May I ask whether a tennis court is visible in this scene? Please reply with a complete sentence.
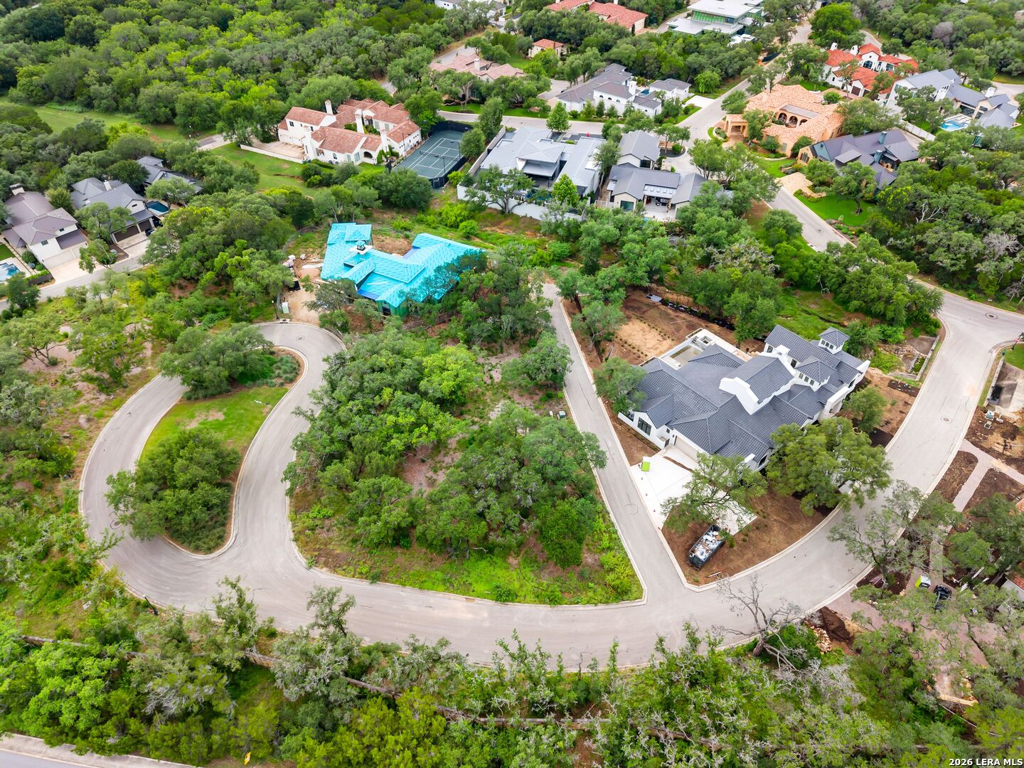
Yes, there's a tennis court down there.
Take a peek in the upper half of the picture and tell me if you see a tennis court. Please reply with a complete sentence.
Yes, a tennis court is visible in the upper half of the picture.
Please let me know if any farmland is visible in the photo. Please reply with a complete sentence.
No, farmland can't be seen anywhere here.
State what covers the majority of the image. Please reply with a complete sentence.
The scene is dominated by trees.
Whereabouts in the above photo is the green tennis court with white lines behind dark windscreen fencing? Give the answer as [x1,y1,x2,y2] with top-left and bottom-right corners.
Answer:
[382,118,476,180]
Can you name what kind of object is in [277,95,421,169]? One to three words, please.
house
